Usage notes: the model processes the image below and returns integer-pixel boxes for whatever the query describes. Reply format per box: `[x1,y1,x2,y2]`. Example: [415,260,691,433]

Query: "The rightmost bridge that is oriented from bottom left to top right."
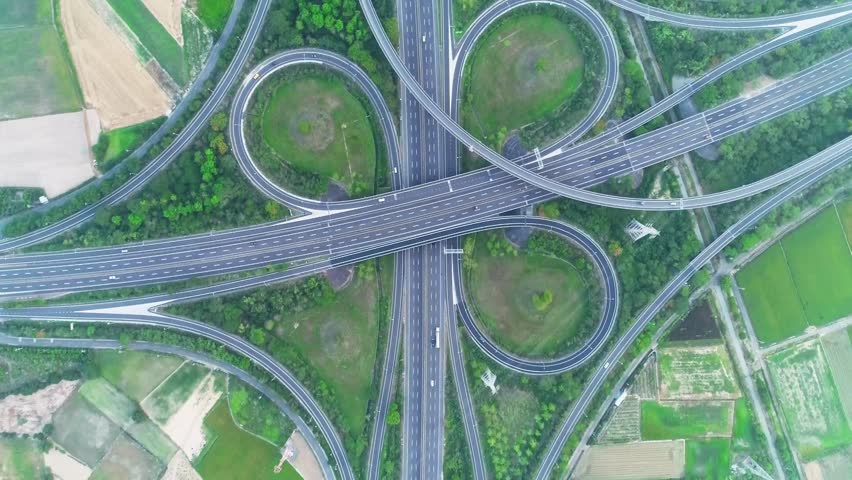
[688,229,734,271]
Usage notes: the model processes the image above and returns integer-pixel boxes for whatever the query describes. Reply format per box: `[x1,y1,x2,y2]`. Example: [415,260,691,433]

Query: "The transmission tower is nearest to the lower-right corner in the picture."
[740,454,785,480]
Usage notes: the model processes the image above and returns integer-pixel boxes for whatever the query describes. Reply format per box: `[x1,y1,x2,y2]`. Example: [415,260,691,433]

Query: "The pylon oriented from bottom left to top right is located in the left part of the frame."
[272,443,297,472]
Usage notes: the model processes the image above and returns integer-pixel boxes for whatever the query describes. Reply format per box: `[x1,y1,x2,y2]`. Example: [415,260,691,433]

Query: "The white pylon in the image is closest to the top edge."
[623,218,662,242]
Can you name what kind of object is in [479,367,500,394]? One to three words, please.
pylon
